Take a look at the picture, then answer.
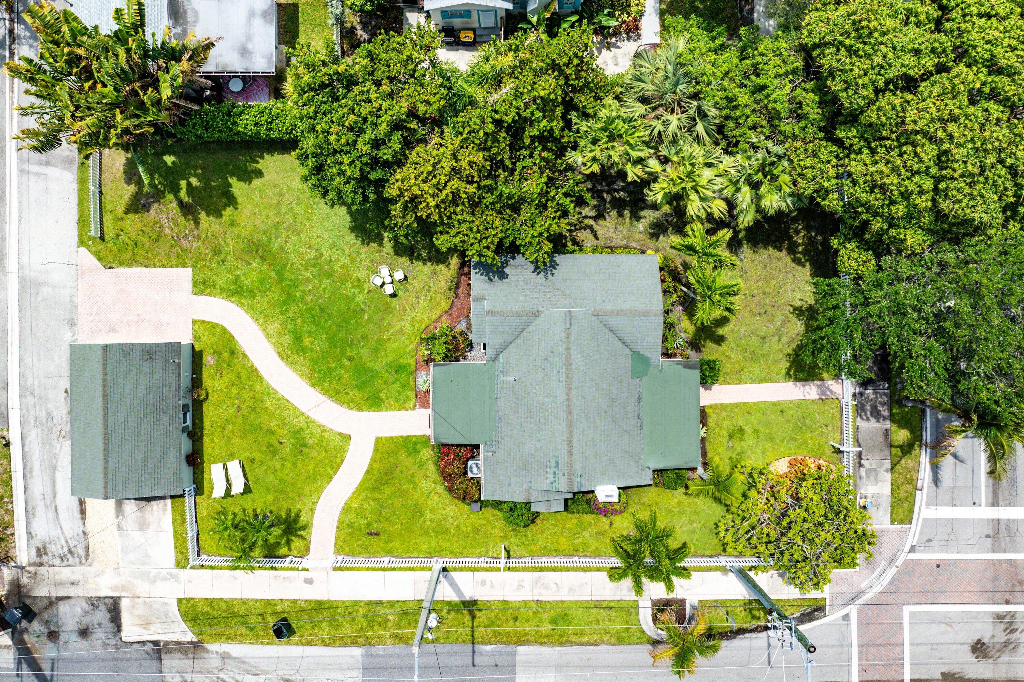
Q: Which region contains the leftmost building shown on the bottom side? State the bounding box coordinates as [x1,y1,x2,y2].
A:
[70,342,191,502]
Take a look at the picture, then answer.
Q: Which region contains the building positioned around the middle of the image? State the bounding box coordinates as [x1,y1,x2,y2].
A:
[427,254,701,513]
